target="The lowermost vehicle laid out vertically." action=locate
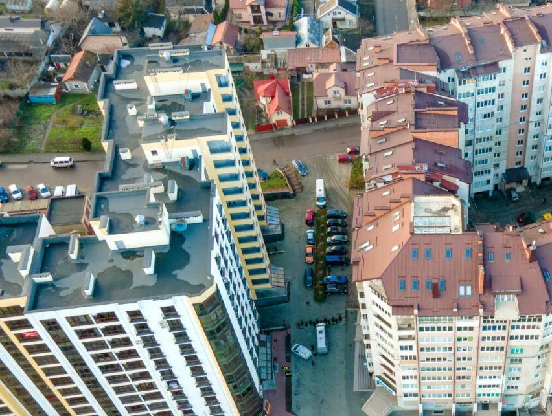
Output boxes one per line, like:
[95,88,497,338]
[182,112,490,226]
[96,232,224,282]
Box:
[312,324,329,353]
